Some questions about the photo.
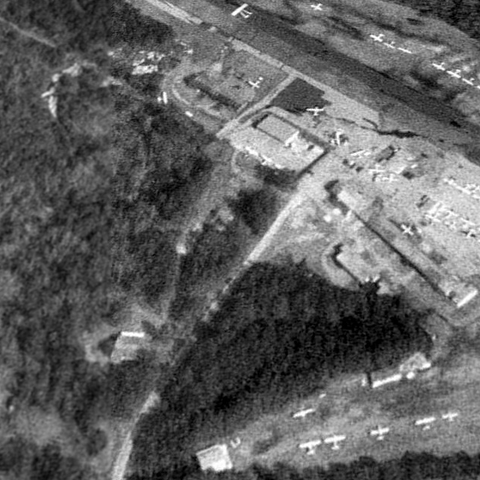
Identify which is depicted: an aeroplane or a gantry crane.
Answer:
aeroplane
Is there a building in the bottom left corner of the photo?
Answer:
Yes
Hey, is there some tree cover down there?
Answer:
Yes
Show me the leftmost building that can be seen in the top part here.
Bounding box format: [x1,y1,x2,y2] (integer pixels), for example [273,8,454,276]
[255,115,300,147]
